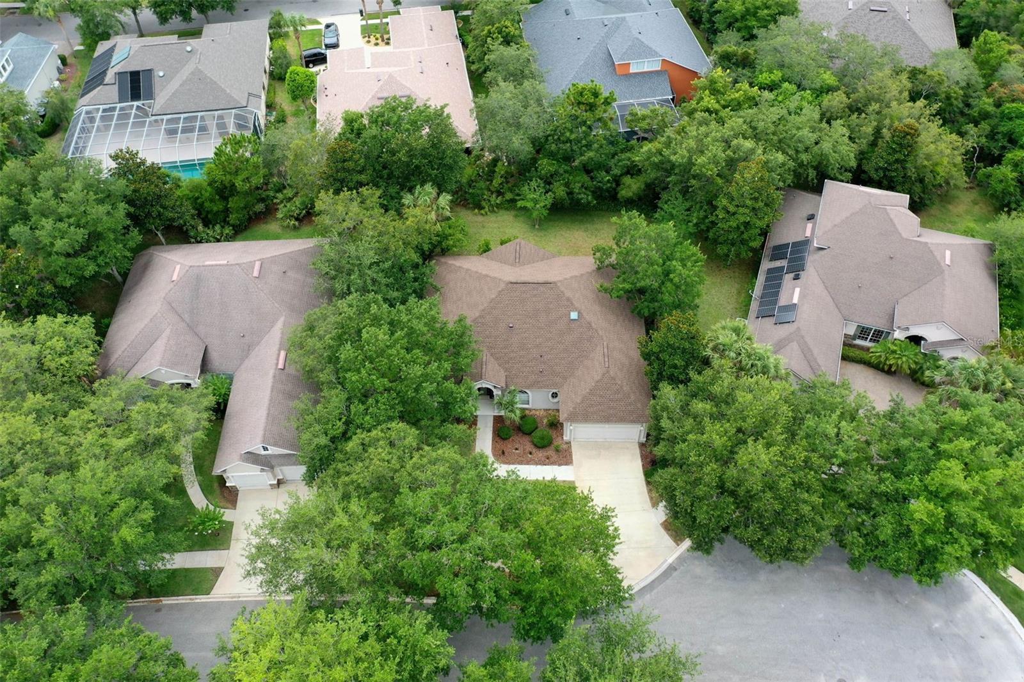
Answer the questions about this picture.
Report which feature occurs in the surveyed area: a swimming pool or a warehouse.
swimming pool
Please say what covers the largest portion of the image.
trees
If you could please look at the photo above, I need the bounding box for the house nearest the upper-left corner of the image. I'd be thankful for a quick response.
[0,25,50,110]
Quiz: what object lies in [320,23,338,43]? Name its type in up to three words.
car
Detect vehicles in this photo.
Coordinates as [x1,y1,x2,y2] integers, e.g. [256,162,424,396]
[298,43,338,64]
[320,23,338,43]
